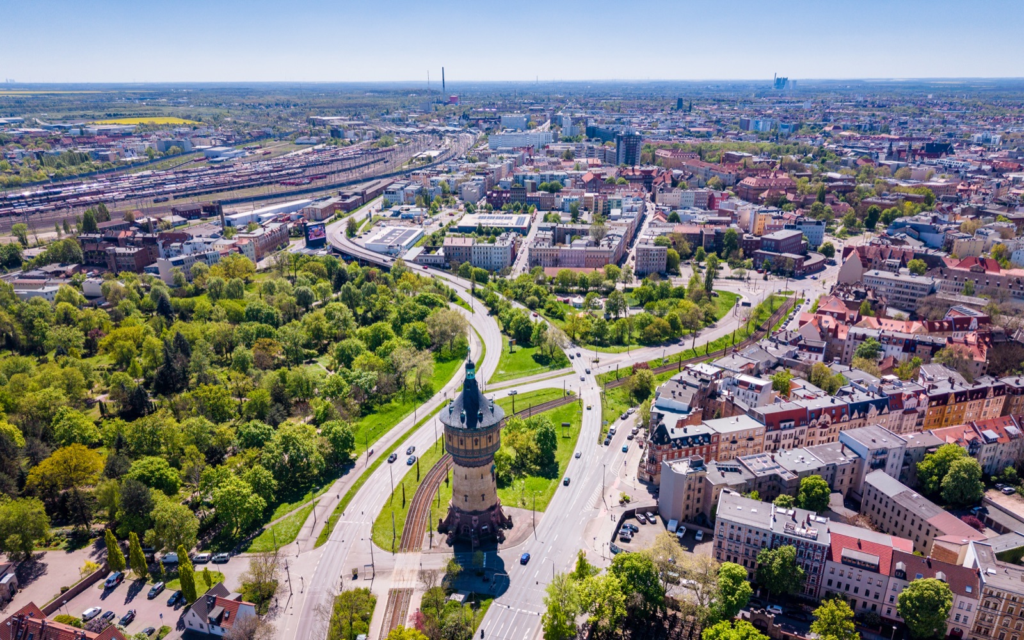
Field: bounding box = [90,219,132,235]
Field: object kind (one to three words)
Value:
building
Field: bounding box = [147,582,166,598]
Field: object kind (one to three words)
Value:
car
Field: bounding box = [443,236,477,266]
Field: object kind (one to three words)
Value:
house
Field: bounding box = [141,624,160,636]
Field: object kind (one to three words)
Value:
vehicle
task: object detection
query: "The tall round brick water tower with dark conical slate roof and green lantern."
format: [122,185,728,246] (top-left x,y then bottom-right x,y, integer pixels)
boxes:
[435,342,513,553]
